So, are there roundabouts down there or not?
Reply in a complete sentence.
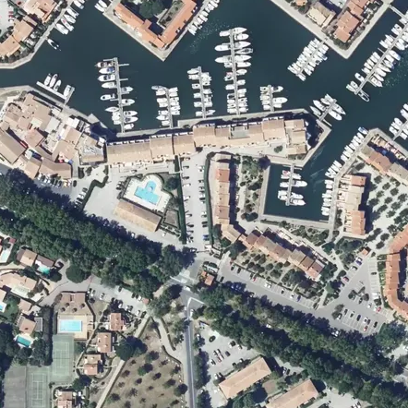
No, I can see no roundabout in this picture.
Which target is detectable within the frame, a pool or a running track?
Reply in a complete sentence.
The image shows a pool.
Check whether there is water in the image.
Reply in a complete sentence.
Yes, water can be seen from above here.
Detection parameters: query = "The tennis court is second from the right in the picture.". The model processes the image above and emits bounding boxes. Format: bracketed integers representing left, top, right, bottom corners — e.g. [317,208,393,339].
[26,366,51,408]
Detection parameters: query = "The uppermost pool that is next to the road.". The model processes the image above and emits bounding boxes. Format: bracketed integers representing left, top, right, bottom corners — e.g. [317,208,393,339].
[123,174,169,211]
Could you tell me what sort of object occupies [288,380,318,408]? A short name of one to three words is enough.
building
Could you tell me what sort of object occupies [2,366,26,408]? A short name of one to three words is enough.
tennis court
